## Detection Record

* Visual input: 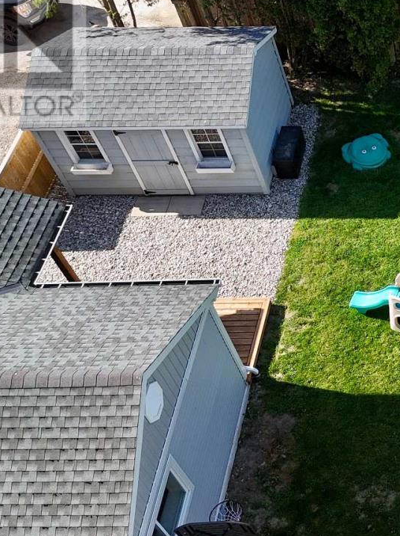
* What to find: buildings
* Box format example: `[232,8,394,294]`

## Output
[20,30,293,197]
[0,185,275,536]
